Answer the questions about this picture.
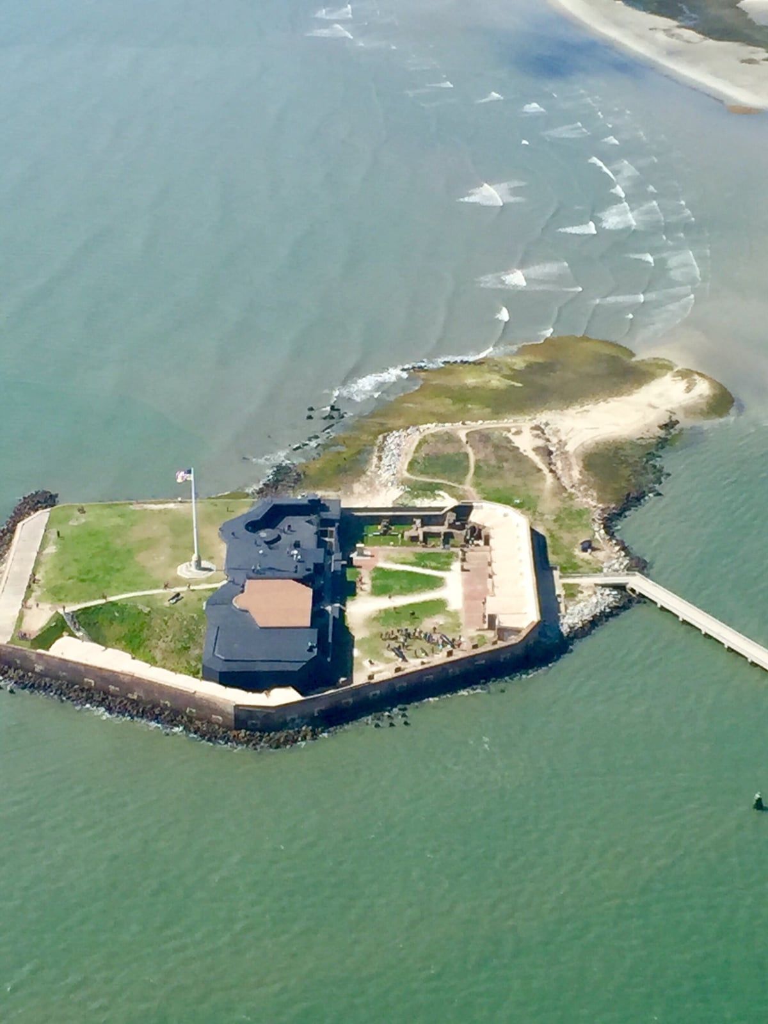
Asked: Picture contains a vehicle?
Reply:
No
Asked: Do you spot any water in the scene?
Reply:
Yes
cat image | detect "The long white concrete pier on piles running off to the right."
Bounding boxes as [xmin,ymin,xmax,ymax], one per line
[560,573,768,683]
